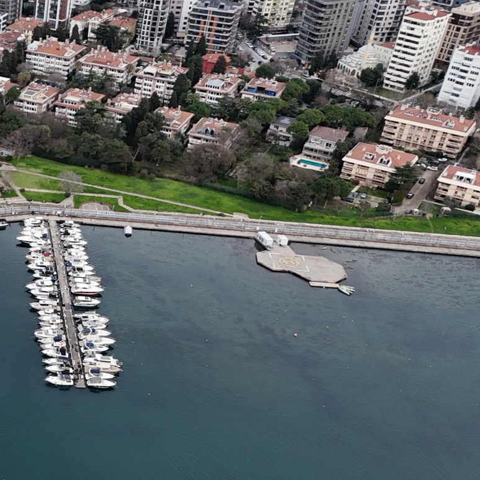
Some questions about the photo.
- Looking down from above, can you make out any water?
Yes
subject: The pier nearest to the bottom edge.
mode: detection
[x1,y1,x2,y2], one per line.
[63,304,86,390]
